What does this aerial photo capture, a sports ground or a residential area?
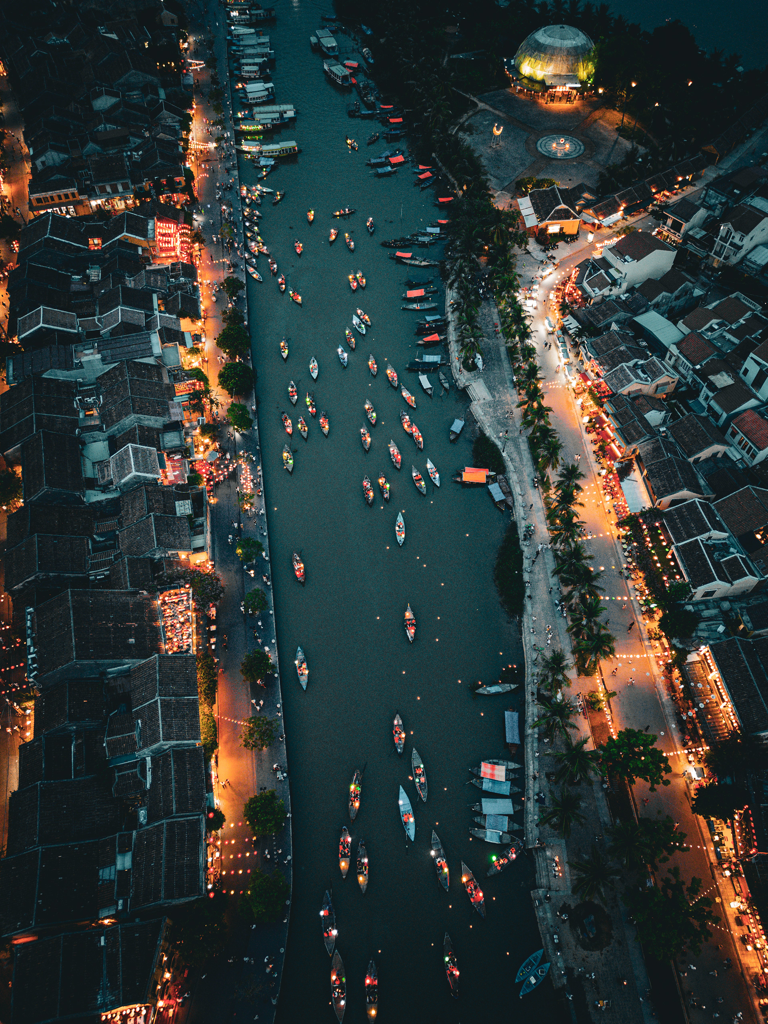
residential area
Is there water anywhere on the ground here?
Yes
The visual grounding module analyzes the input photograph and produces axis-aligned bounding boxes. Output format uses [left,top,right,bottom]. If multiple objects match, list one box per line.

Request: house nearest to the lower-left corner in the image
[10,929,114,1024]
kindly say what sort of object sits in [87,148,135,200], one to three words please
house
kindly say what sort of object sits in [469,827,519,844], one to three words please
boat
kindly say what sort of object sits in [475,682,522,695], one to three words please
boat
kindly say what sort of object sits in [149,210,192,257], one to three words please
house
